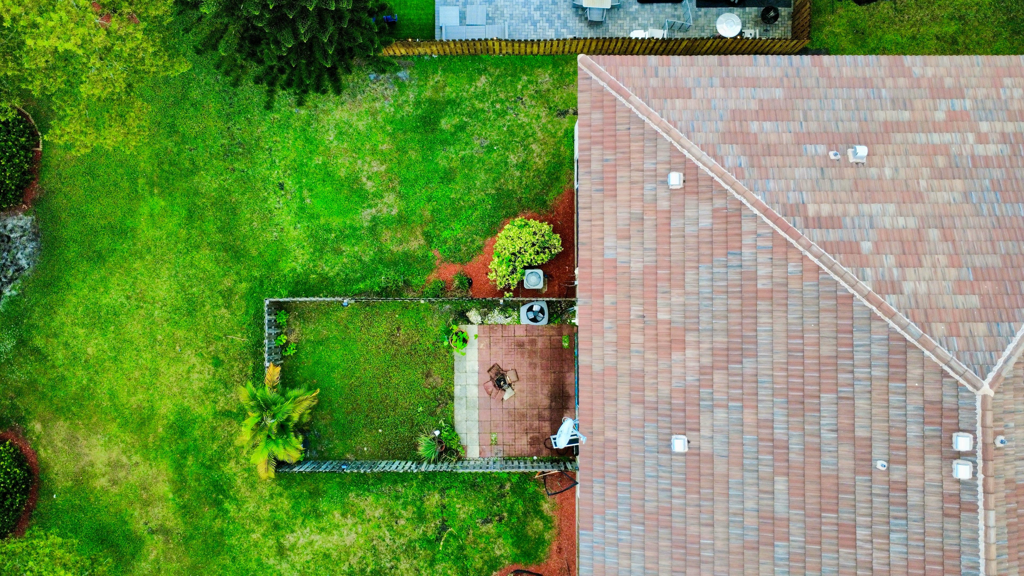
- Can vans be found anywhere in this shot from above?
No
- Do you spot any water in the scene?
No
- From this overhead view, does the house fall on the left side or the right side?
right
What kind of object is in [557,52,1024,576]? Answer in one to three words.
house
